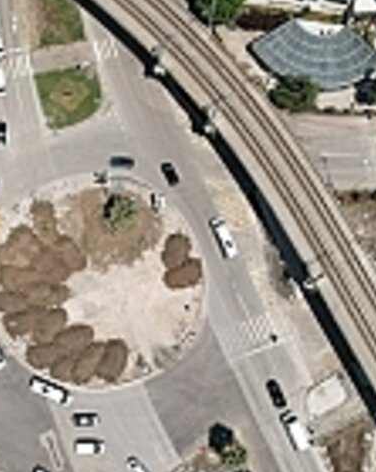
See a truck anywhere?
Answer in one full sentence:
Yes, there's a truck down there.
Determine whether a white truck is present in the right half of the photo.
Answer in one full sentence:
Yes, a white truck can be seen in the right half of the photo.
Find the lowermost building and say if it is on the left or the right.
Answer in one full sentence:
The lowermost building sits on the right side.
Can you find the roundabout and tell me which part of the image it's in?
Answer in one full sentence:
The roundabout sits in the left section of the image.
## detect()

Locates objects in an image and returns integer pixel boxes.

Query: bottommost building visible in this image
[242,17,376,93]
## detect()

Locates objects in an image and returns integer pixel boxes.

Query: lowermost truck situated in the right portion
[278,407,317,457]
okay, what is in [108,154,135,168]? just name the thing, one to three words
car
